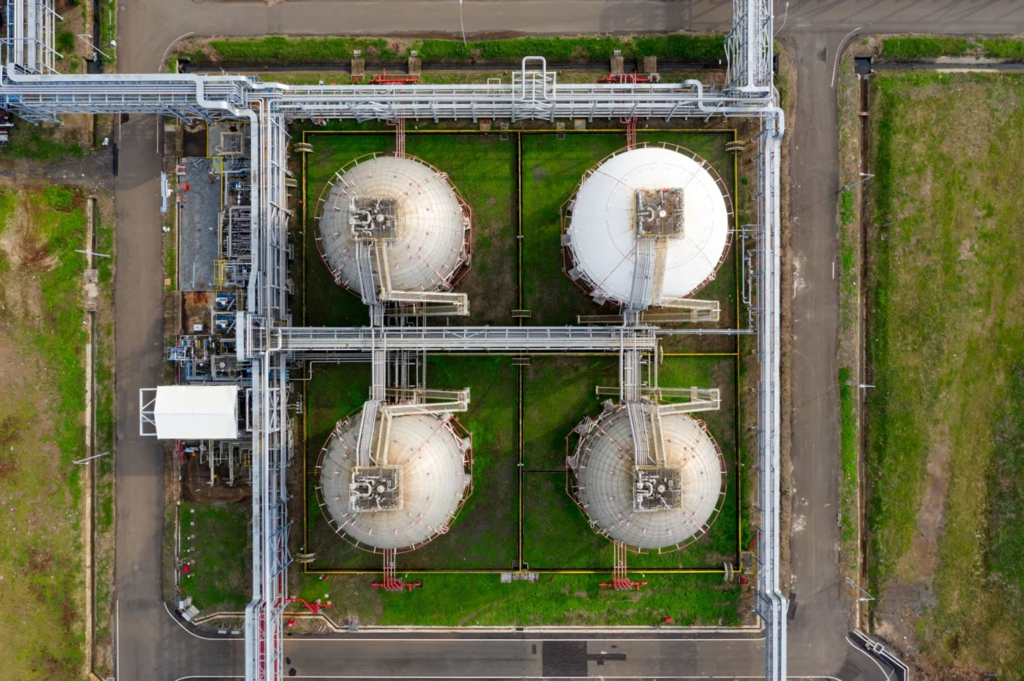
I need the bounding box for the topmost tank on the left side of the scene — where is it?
[314,146,477,324]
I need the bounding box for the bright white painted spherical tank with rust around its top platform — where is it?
[557,141,731,325]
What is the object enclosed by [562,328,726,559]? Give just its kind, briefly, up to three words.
storage tank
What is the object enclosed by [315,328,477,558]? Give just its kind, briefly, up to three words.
storage tank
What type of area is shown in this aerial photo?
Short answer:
industrial area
